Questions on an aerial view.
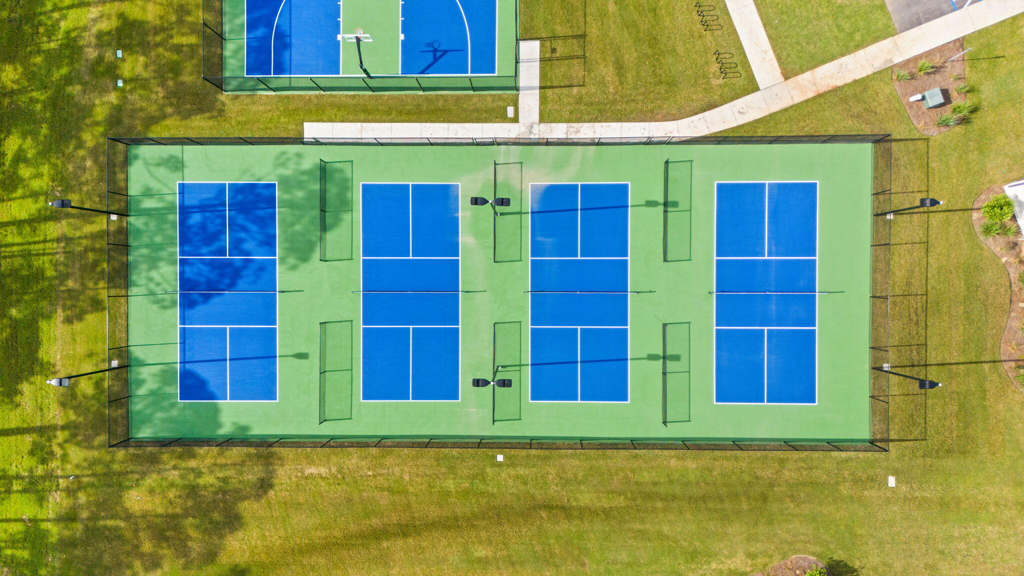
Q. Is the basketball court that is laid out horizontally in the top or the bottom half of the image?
top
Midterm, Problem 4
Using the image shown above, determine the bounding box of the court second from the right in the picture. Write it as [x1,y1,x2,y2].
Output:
[529,182,630,403]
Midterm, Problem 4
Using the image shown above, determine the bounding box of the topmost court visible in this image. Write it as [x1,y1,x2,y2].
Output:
[222,0,521,95]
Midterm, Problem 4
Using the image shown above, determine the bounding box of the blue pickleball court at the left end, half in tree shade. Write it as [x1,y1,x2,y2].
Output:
[177,181,278,402]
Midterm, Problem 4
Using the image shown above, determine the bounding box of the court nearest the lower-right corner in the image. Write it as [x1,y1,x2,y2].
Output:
[714,181,819,405]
